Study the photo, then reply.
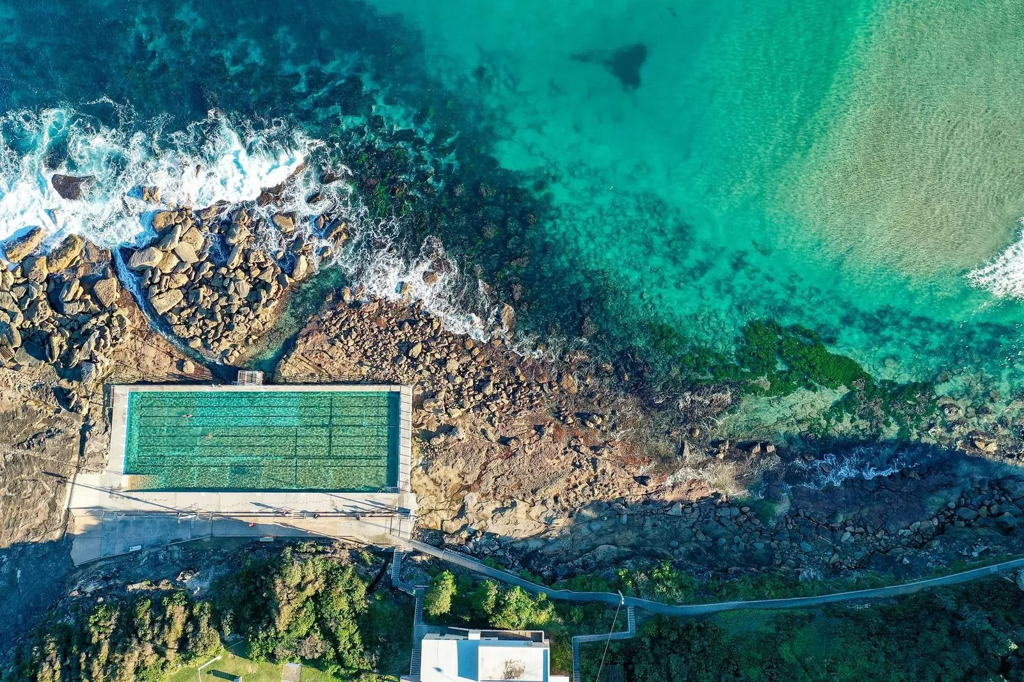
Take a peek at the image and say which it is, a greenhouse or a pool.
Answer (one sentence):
It is a pool that can be seen here.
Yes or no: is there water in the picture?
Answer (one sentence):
Yes, the picture does contain water.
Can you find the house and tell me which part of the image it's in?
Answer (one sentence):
You can find the house in the bottom area of the picture.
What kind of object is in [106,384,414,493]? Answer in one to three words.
swimming pool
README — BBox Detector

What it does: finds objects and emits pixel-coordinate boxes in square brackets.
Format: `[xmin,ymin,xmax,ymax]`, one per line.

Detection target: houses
[419,617,569,682]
